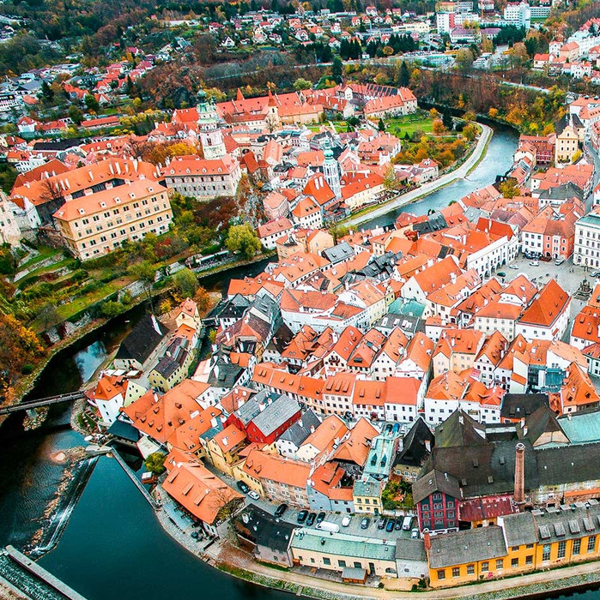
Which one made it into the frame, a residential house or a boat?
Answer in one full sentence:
There is a residential house in the scene.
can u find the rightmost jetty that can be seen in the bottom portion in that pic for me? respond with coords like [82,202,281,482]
[85,445,116,461]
